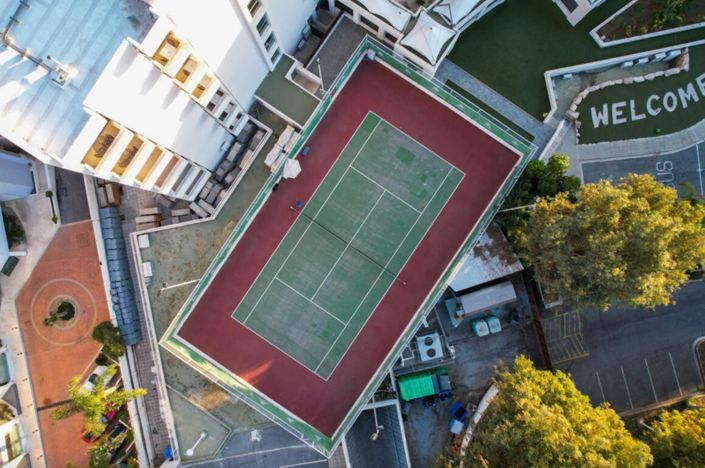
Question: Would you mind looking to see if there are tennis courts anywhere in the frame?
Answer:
Yes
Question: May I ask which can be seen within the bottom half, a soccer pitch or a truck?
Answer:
truck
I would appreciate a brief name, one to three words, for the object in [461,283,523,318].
building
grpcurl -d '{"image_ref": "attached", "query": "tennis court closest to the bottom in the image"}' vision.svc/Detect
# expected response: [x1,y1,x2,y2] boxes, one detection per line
[175,50,523,443]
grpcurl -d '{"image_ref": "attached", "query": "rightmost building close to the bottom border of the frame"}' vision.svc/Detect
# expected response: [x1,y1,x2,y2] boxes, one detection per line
[339,397,413,468]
